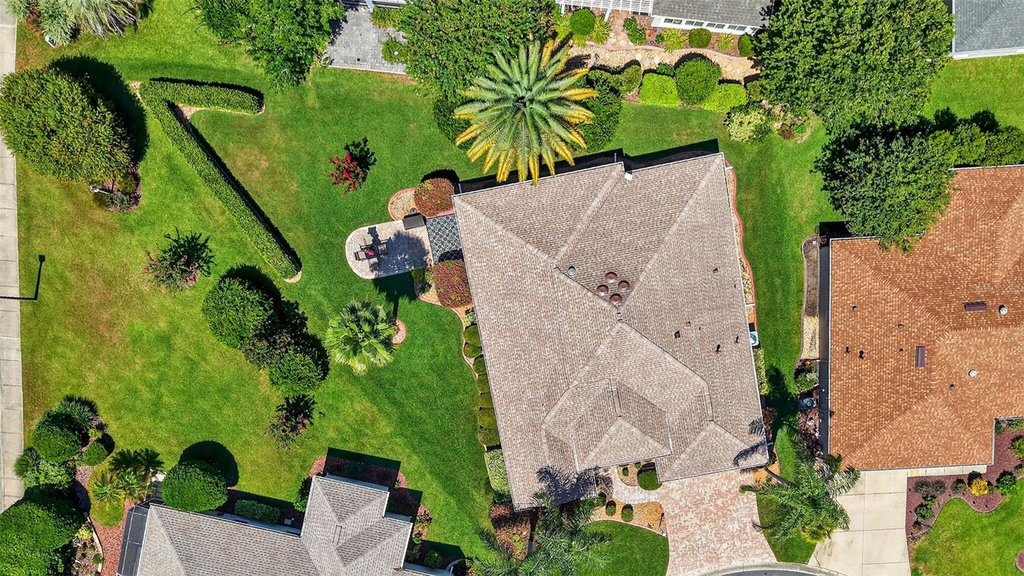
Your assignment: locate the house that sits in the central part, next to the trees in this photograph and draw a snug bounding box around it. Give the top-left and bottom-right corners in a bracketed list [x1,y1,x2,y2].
[452,152,770,511]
